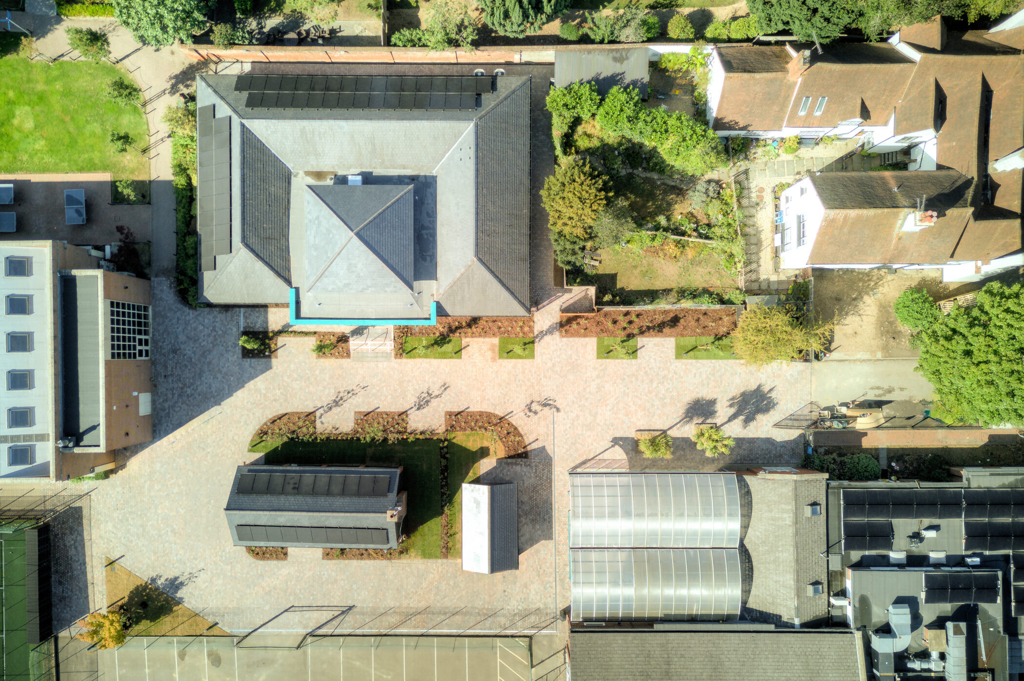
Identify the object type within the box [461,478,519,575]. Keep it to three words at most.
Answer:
shed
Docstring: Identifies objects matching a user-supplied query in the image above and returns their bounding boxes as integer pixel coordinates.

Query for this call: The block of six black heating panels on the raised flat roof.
[921,572,999,608]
